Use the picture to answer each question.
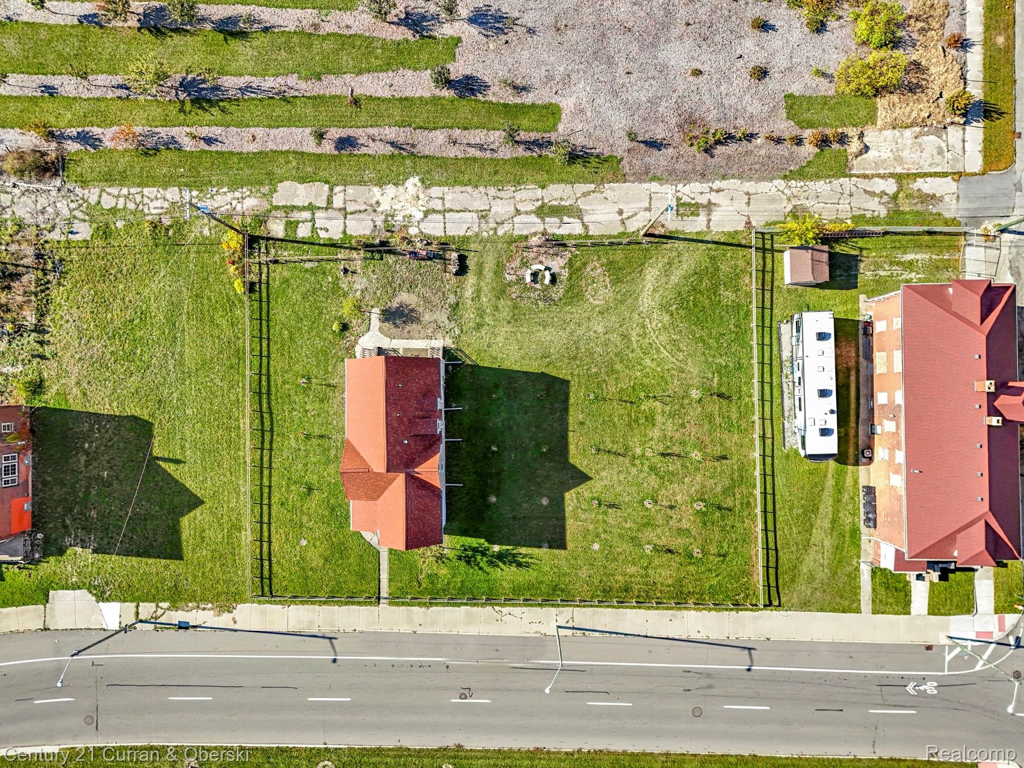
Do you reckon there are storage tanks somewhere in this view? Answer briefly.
No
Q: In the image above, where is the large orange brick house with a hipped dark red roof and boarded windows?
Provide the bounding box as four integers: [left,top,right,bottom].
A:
[863,280,1024,578]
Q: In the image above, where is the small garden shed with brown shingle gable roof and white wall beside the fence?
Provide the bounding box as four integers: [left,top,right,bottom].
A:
[784,245,829,285]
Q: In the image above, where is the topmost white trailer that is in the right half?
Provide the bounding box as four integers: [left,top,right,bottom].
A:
[787,306,837,468]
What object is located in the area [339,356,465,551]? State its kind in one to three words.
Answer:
house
